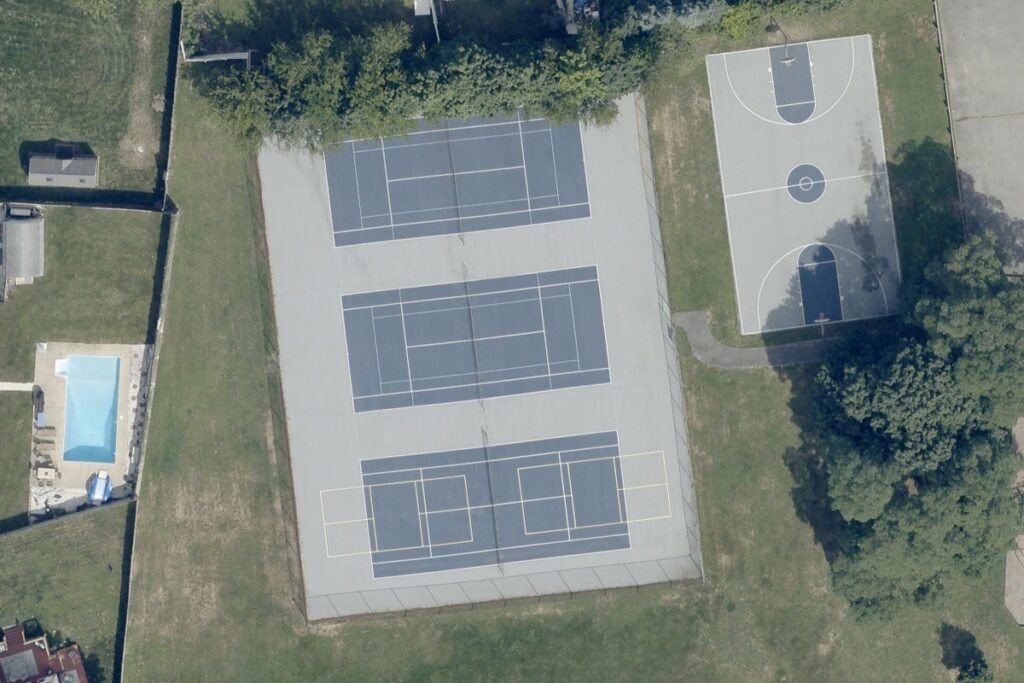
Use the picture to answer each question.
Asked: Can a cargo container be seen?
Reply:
No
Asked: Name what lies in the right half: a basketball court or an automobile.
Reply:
basketball court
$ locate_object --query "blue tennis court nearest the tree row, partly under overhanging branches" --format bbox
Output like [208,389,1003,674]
[321,101,592,248]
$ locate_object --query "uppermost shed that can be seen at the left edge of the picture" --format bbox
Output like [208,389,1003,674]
[28,143,99,187]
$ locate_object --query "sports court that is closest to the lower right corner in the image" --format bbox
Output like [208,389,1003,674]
[518,451,672,535]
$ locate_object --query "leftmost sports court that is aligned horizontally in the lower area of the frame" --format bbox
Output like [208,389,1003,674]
[320,475,473,557]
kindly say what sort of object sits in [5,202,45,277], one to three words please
shed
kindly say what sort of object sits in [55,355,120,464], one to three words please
swimming pool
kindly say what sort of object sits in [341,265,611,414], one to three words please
tennis court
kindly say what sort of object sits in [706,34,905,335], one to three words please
basketball court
